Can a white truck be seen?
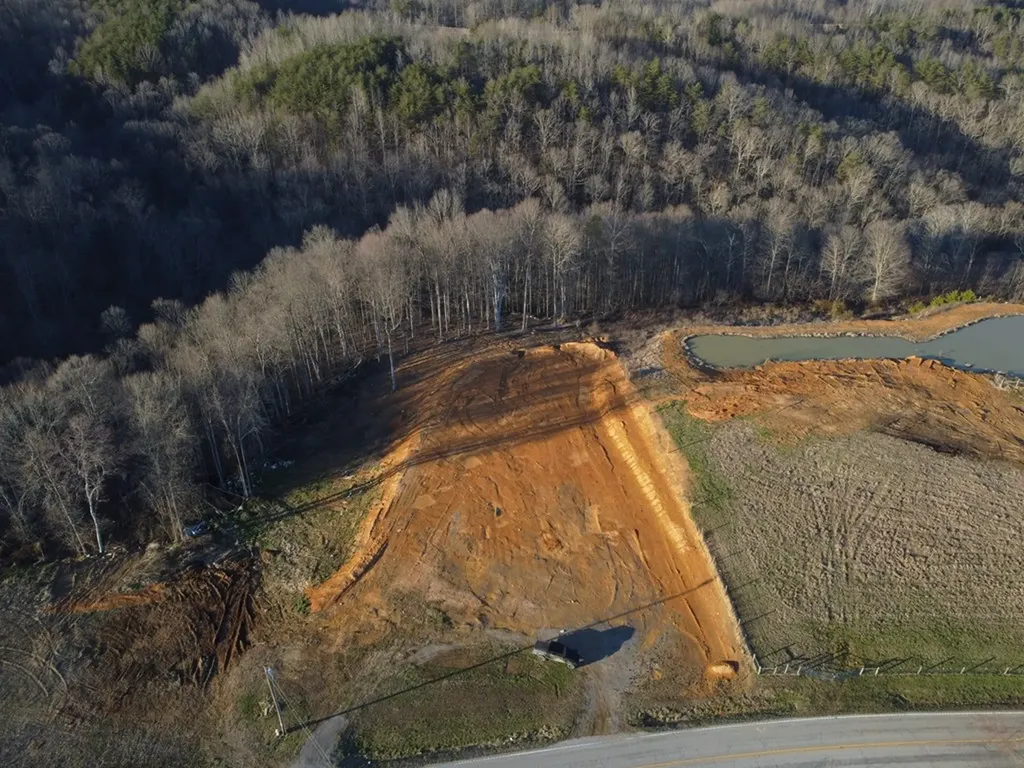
No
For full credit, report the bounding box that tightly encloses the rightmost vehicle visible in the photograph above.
[532,642,582,673]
